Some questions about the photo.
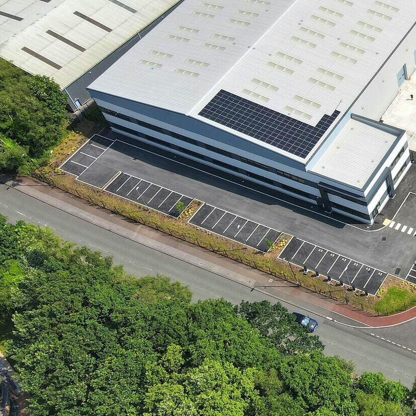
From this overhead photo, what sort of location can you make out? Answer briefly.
industrial area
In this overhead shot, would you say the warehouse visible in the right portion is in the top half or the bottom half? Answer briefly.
top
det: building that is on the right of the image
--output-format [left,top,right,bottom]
[84,0,416,222]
